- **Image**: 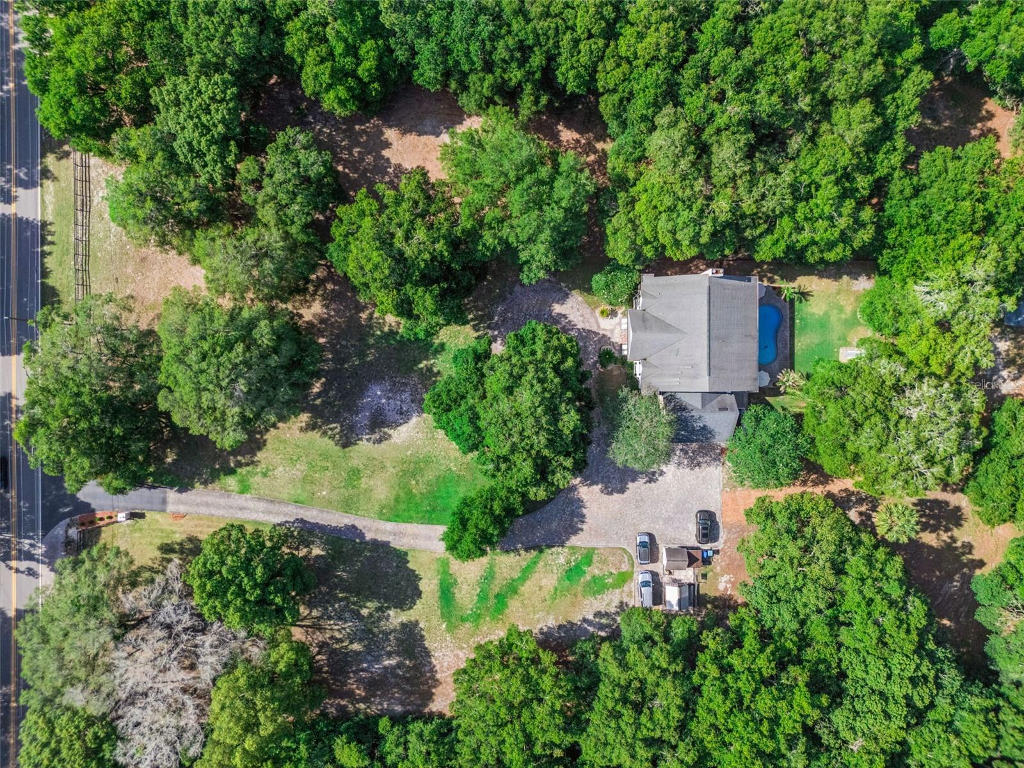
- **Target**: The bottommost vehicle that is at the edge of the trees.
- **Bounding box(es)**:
[637,570,653,608]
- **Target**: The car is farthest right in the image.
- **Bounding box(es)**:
[694,509,711,542]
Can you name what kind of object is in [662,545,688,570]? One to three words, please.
shed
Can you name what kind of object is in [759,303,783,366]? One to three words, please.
swimming pool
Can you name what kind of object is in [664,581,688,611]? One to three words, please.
shed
